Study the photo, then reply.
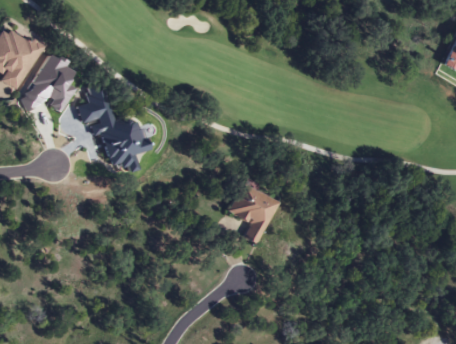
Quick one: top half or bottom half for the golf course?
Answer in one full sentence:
The golf course sits in the top half of the picture.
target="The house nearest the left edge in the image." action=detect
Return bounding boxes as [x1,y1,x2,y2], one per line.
[0,30,44,88]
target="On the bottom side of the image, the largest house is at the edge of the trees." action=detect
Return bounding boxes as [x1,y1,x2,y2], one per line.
[230,187,280,242]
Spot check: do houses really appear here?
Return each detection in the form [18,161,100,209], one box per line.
[78,82,156,172]
[230,187,280,242]
[0,30,44,88]
[20,52,80,116]
[444,40,456,68]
